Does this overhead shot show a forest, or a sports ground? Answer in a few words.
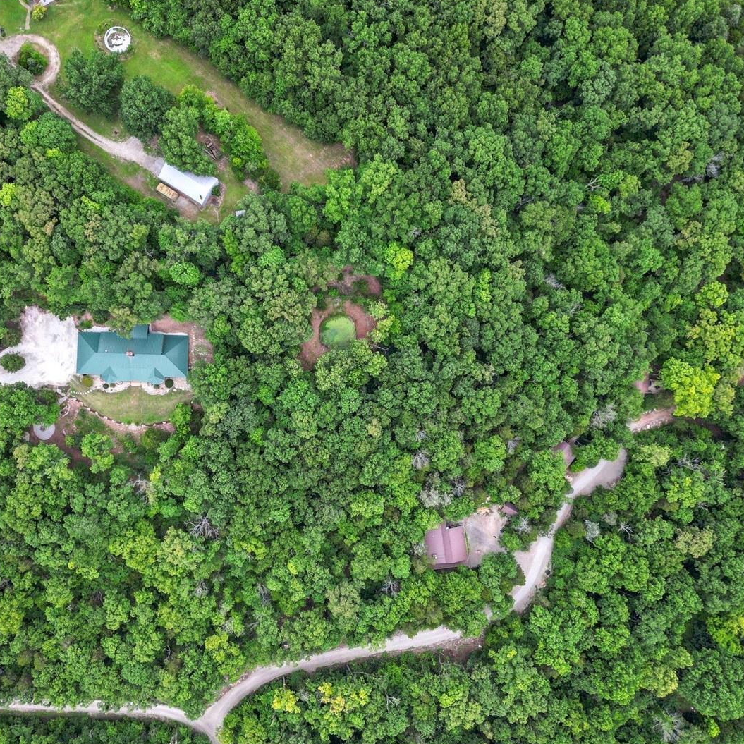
forest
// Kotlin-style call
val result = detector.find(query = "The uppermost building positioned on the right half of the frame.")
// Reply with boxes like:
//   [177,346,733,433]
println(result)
[632,371,665,395]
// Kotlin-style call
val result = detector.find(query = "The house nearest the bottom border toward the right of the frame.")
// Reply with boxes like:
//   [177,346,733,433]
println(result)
[427,522,467,570]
